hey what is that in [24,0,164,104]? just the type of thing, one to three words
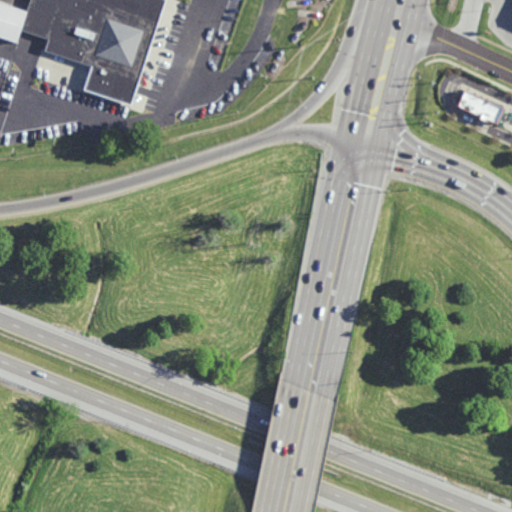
building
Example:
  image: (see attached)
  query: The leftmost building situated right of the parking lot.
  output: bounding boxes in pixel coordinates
[457,91,504,125]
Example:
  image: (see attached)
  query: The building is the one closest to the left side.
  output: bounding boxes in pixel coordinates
[0,2,28,46]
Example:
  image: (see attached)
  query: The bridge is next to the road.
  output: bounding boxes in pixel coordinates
[252,379,336,512]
